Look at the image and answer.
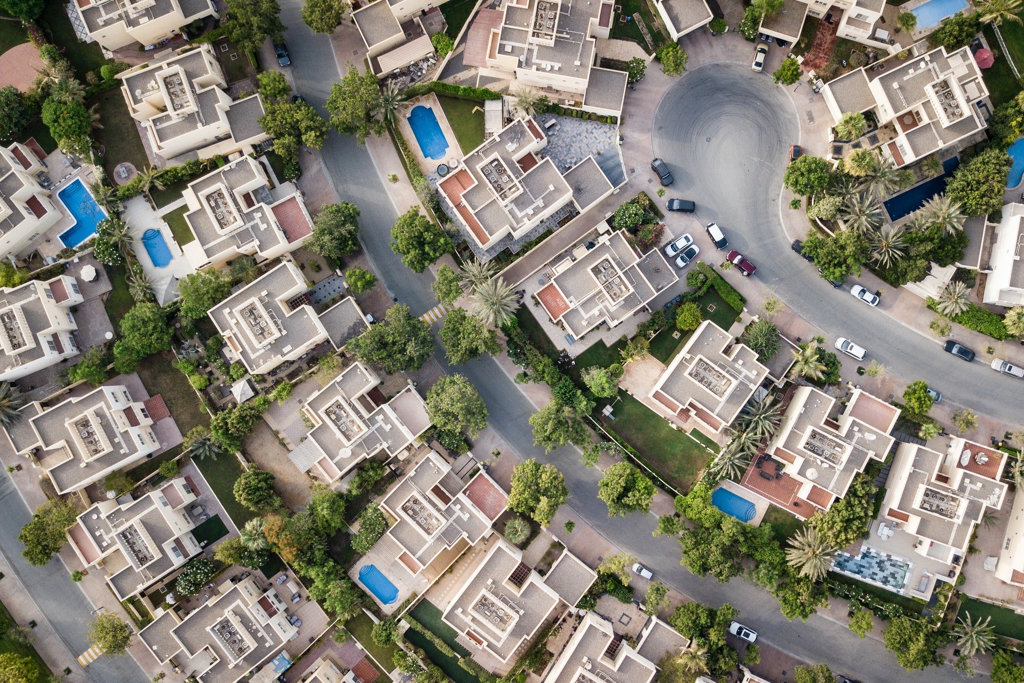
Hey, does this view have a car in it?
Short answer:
Yes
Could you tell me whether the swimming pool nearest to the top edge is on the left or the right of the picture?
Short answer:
right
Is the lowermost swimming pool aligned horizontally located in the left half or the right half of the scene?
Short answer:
right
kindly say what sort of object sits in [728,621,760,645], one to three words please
car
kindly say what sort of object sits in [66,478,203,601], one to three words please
house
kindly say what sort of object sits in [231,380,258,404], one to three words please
gazebo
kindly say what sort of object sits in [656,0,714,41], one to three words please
house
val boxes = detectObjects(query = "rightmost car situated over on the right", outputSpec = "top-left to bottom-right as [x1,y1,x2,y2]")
[989,358,1024,380]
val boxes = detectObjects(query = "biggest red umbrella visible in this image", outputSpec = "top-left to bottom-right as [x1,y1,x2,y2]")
[975,48,994,68]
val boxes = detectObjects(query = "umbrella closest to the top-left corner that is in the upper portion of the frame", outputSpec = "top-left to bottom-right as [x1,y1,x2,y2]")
[80,265,99,281]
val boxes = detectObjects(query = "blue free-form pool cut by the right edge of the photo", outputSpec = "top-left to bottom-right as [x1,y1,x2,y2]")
[1002,132,1024,194]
